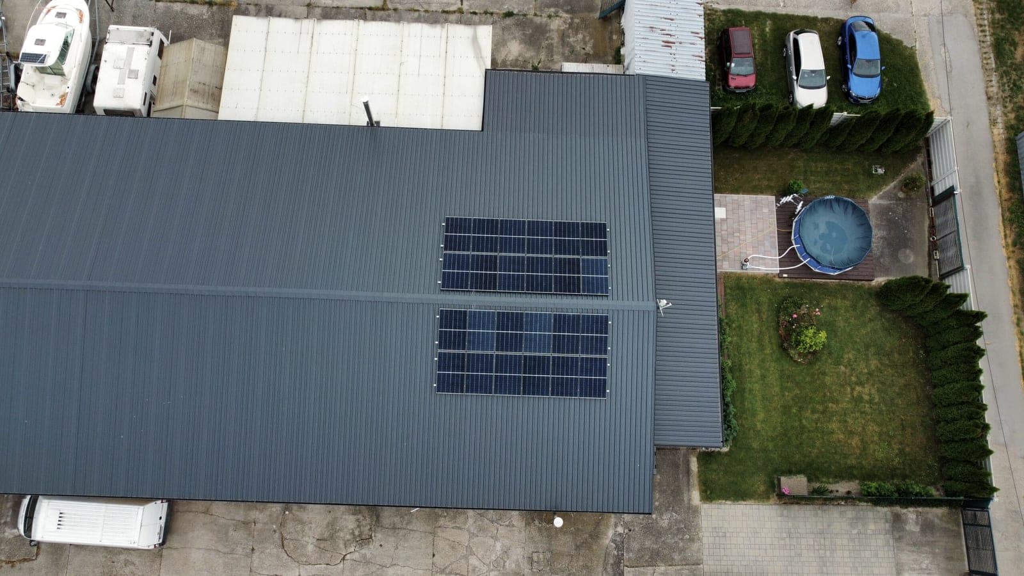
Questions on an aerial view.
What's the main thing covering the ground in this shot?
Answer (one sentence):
For the most part, this view shows buildings.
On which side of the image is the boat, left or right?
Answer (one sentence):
The boat sits on the left side.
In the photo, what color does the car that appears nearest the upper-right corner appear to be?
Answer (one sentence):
The car that appears nearest the upper-right corner looks blue in the image.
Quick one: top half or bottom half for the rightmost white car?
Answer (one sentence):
It is in the top half that the rightmost white car appears.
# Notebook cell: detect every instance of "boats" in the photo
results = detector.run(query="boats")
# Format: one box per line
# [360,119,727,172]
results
[19,0,90,112]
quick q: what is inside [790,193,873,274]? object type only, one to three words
swimming pool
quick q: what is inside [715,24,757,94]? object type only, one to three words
car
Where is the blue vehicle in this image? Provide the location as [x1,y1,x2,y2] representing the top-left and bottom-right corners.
[837,17,887,102]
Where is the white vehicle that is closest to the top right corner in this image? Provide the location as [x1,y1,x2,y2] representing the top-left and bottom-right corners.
[782,33,832,111]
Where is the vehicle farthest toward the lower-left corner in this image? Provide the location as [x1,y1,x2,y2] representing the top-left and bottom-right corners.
[21,498,173,550]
